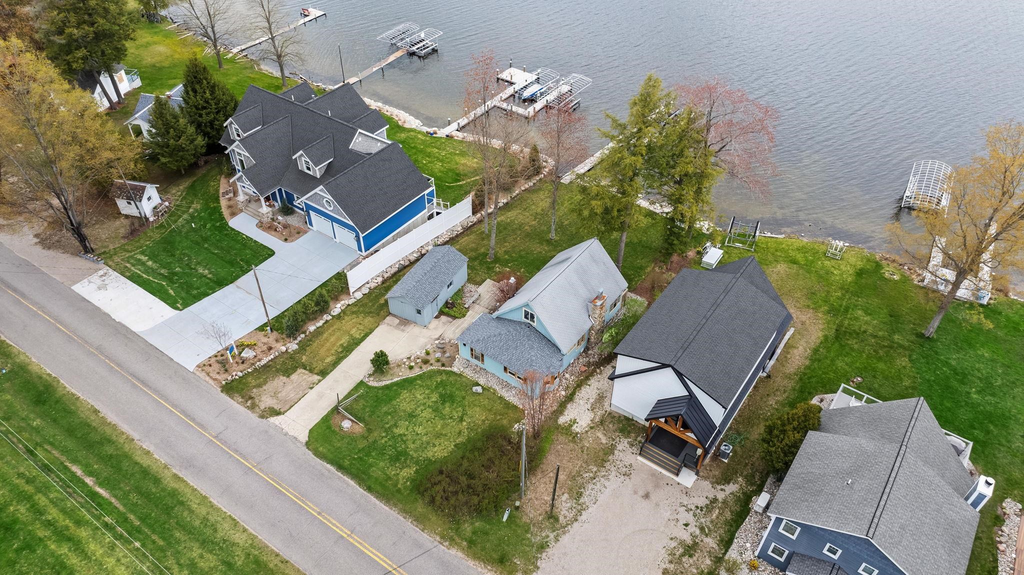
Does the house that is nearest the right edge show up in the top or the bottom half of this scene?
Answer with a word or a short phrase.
bottom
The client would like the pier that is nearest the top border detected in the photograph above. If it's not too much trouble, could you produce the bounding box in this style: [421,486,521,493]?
[228,5,327,57]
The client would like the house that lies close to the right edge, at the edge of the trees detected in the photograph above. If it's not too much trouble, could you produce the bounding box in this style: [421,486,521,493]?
[755,384,999,575]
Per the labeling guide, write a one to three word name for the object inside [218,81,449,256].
house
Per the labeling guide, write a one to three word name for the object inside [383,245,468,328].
shed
